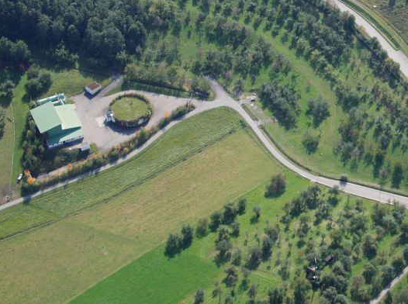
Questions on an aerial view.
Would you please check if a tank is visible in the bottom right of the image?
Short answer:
No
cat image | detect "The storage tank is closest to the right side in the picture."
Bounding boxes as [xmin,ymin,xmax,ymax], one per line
[107,92,152,125]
